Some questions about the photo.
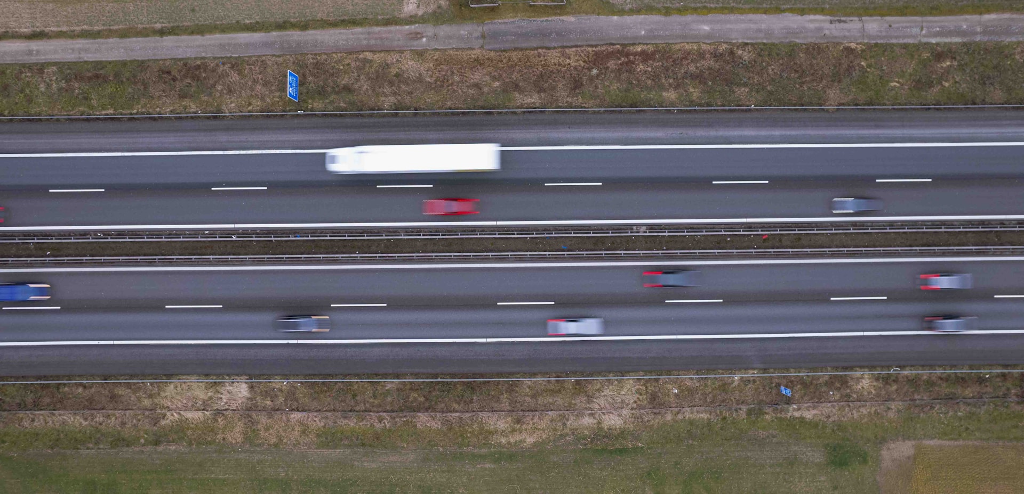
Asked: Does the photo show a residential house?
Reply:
No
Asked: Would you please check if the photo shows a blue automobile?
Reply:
Yes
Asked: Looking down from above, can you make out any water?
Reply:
No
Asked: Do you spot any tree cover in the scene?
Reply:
No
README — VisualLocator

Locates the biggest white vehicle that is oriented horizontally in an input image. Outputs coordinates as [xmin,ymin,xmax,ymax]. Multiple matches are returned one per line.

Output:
[327,144,500,175]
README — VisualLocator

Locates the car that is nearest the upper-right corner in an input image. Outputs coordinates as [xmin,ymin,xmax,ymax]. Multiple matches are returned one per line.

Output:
[831,195,879,214]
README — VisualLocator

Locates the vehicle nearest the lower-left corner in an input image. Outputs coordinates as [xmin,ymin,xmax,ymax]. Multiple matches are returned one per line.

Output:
[0,282,51,302]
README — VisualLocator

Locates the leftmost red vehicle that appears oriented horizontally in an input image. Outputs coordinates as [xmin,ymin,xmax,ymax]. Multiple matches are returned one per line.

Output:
[428,197,475,216]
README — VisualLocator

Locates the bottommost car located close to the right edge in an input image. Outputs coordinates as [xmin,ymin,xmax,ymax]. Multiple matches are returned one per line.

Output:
[925,314,973,333]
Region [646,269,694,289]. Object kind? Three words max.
car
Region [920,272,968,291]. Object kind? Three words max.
car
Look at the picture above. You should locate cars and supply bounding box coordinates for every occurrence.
[280,315,328,334]
[831,195,879,214]
[920,272,968,291]
[646,269,694,289]
[428,197,475,216]
[552,317,600,336]
[0,282,51,302]
[925,314,973,333]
